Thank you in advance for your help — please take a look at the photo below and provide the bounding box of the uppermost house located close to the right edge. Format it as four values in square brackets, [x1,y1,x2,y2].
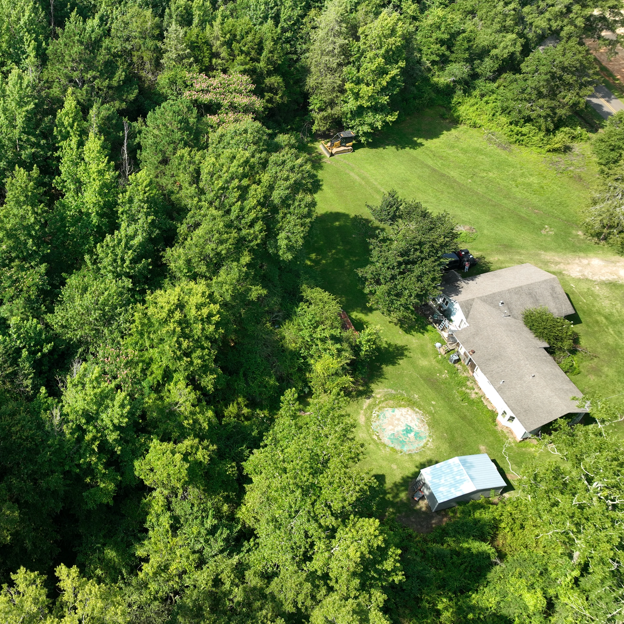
[435,263,595,443]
